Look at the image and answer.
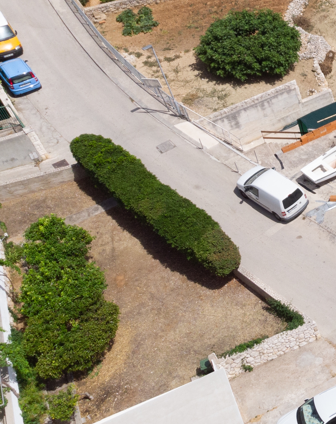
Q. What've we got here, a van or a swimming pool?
van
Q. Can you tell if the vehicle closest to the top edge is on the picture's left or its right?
left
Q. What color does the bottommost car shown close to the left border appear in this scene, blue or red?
blue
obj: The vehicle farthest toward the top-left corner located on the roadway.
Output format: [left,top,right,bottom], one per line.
[0,0,23,52]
